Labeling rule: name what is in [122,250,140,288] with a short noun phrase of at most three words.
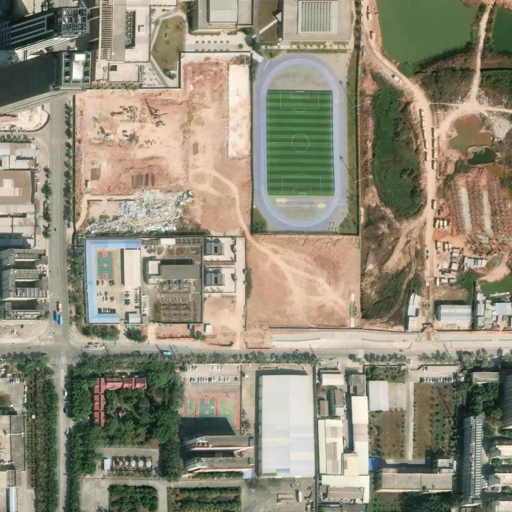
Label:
building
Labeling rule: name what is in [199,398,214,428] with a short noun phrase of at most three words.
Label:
basketball court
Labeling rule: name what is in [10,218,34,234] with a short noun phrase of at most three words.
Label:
shed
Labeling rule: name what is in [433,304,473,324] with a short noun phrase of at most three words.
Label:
shed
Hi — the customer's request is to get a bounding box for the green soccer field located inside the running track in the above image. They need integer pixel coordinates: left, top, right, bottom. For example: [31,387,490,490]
[266,91,332,196]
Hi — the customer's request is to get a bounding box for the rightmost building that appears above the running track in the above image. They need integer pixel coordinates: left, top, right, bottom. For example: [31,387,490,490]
[274,0,352,42]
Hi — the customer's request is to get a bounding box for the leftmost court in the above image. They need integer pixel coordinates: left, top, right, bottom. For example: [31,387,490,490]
[98,251,112,280]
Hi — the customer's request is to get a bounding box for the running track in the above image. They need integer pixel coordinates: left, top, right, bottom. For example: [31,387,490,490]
[257,54,348,231]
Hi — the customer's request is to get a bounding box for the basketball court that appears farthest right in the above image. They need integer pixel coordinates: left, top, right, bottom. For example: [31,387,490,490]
[220,398,234,431]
